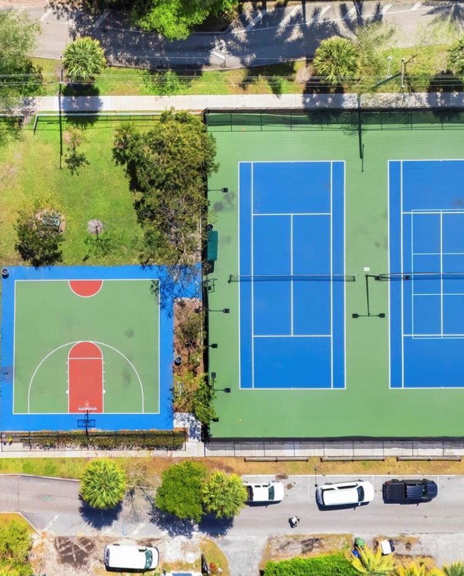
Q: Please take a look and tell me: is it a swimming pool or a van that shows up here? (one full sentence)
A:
I can see a van in this picture.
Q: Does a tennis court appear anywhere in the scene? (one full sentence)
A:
Yes, there is a tennis court in the image.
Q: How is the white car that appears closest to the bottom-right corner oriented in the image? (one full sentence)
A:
I'd say the white car that appears closest to the bottom-right corner is aligned from left to right in the picture.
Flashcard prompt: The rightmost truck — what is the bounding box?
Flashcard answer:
[378,478,436,504]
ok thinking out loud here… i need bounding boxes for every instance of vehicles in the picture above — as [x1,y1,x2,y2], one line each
[229,479,285,506]
[315,481,371,506]
[378,478,436,504]
[103,542,158,570]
